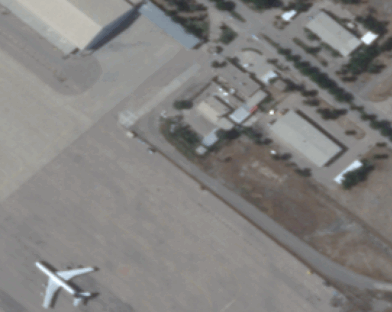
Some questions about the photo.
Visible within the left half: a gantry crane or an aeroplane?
aeroplane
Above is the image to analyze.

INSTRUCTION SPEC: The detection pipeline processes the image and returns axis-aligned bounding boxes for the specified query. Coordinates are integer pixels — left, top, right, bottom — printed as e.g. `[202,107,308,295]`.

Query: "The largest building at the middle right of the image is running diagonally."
[271,110,343,166]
